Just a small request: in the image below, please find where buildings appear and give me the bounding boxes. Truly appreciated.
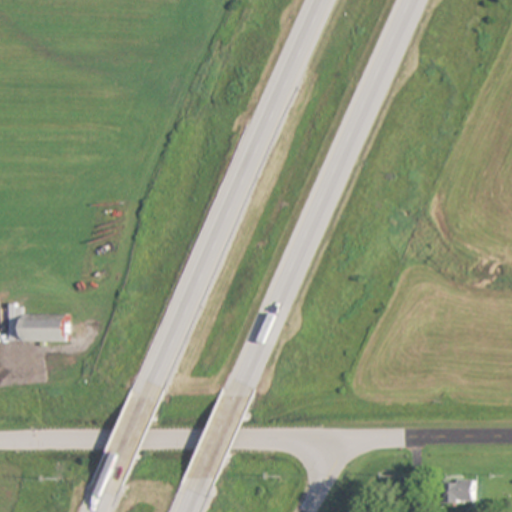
[445,472,478,508]
[16,314,72,342]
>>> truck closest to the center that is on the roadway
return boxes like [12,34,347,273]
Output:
[257,301,284,344]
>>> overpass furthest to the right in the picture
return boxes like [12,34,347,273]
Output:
[178,384,256,494]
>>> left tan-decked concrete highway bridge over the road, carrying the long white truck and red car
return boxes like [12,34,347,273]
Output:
[88,382,166,491]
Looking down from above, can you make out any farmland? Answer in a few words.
Yes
